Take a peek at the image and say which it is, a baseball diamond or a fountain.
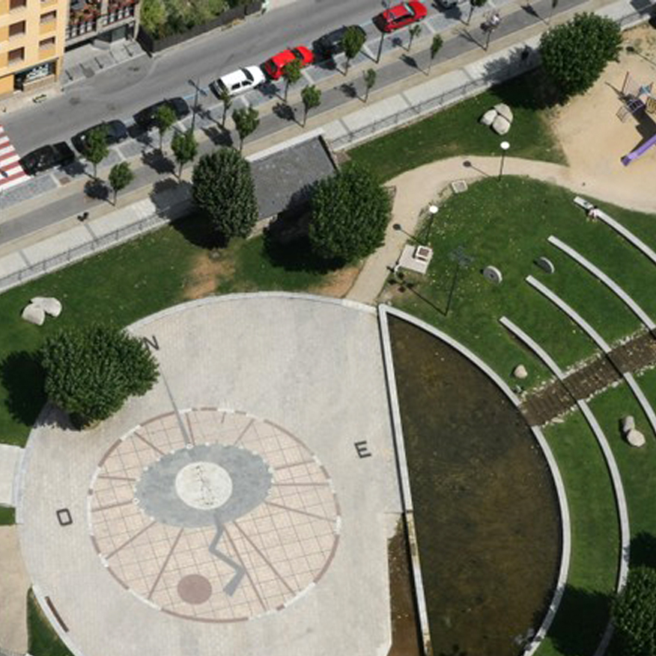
fountain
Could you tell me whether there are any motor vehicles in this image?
Yes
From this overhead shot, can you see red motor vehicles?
Yes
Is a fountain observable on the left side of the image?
No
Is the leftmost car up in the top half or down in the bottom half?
top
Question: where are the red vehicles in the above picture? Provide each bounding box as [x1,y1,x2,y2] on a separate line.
[373,0,431,32]
[261,43,316,78]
